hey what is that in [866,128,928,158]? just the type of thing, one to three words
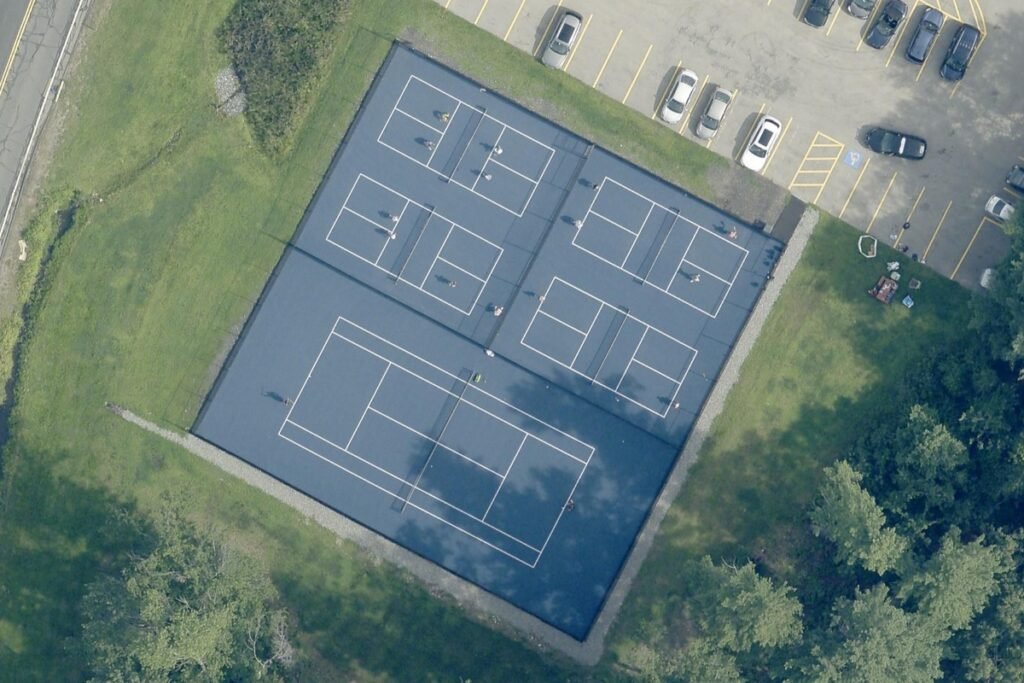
truck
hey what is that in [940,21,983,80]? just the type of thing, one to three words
car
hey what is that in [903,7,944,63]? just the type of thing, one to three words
car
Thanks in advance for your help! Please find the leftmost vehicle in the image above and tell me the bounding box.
[542,12,584,68]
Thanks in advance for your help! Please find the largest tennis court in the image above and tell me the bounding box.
[192,246,680,641]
